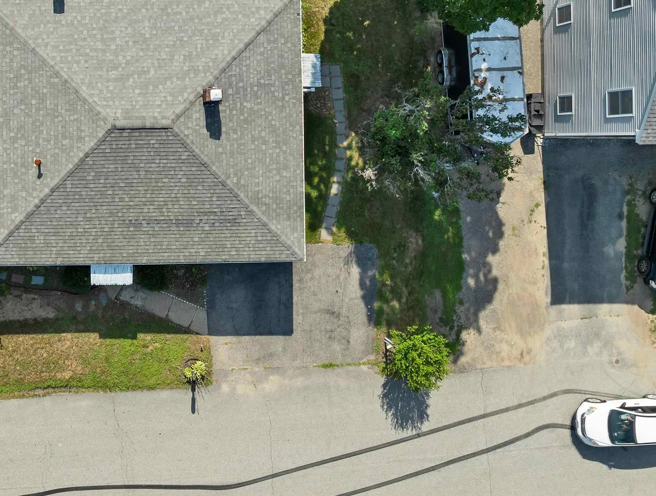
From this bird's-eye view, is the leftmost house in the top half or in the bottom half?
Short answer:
top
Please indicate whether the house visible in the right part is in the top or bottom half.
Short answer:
top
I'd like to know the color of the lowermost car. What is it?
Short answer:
white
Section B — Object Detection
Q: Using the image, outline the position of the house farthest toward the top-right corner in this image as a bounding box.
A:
[542,0,656,148]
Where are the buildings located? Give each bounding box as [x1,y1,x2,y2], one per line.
[542,0,656,148]
[0,0,323,286]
